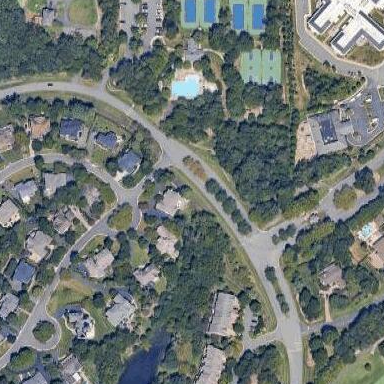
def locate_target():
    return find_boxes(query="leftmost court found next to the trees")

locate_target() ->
[181,0,200,27]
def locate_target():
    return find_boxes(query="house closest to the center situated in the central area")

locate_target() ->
[159,189,186,217]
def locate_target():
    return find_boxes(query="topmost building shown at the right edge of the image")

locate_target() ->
[308,0,384,54]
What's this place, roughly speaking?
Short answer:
residential area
